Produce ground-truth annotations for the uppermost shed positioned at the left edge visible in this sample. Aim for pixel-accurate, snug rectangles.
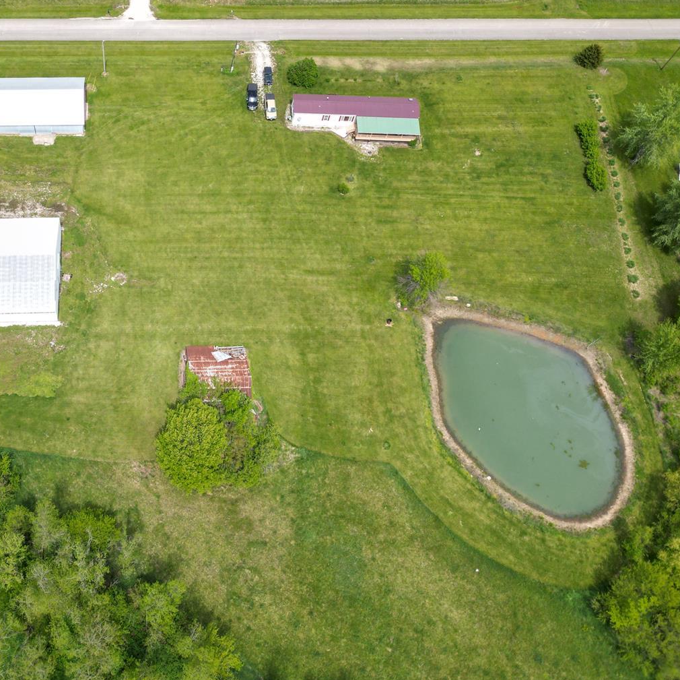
[0,79,89,137]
